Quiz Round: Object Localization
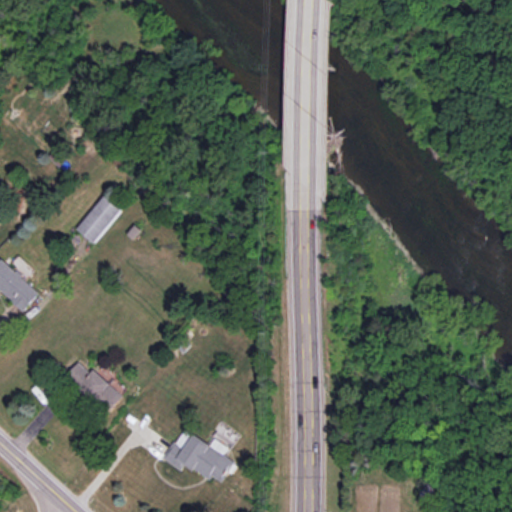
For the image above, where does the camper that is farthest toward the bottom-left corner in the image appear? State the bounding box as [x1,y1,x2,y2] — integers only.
[32,386,47,405]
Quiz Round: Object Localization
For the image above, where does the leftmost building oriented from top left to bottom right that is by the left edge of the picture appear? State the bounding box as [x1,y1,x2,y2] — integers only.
[0,257,40,310]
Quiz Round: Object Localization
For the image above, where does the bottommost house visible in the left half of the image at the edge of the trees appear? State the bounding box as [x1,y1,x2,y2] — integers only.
[162,432,241,484]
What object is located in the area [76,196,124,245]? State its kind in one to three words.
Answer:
barn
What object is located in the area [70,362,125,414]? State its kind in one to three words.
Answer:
house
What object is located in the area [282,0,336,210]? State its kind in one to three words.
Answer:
bridge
